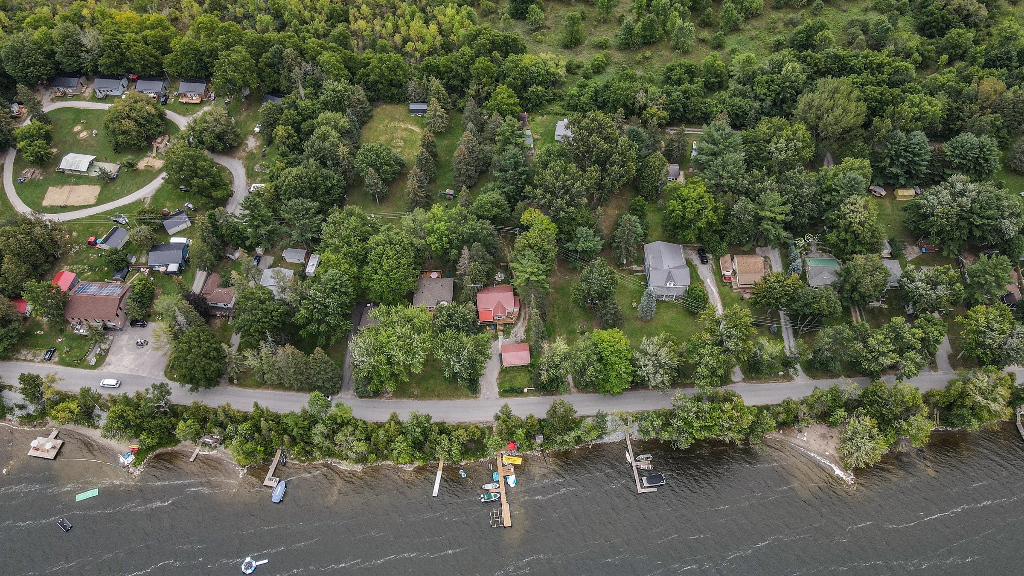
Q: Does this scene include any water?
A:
Yes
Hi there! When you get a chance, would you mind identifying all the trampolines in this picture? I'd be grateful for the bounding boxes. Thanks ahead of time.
[239,552,257,575]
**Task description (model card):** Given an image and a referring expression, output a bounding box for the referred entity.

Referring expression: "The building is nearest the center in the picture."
[476,282,520,321]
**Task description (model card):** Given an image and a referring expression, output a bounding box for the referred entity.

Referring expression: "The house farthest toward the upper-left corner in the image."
[51,74,90,94]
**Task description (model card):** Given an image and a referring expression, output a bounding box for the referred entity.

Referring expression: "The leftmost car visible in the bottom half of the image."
[44,346,57,362]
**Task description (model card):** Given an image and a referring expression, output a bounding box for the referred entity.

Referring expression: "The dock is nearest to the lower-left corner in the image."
[27,429,63,459]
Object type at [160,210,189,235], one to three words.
house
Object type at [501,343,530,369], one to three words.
building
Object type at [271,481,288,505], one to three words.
boat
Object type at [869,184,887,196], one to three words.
vehicle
